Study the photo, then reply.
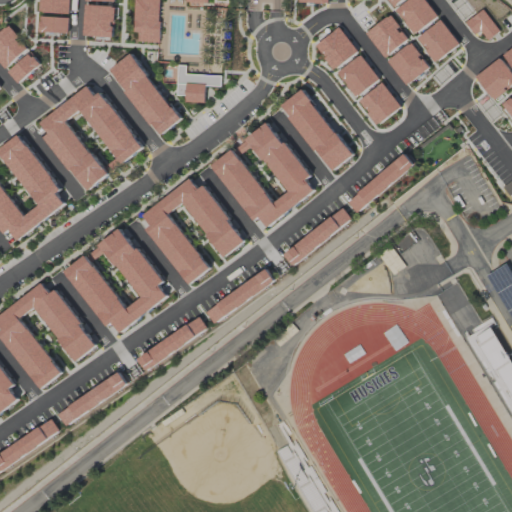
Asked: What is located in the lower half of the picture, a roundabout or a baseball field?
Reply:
baseball field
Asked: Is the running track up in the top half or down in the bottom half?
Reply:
bottom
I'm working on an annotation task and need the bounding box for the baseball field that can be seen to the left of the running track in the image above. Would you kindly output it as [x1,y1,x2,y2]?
[151,372,284,504]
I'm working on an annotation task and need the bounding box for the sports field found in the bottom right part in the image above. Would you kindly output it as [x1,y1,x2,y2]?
[312,340,512,512]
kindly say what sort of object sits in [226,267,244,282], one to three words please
vehicle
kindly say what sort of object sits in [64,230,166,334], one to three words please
building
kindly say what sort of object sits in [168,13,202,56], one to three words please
swimming pool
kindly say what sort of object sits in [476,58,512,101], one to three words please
house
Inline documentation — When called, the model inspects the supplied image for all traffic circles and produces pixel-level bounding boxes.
[247,18,316,86]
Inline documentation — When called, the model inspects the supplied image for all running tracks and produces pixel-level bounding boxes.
[290,302,512,512]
